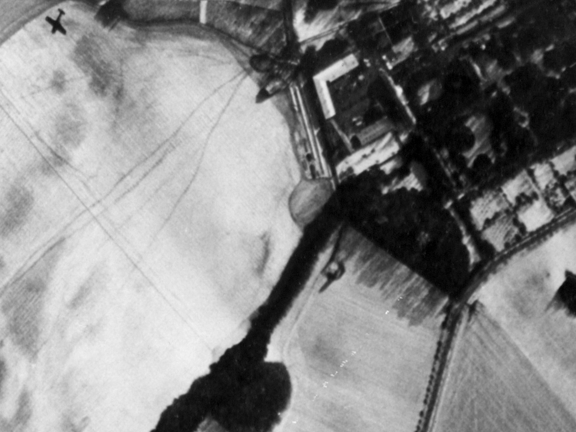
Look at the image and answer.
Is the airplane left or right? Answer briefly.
left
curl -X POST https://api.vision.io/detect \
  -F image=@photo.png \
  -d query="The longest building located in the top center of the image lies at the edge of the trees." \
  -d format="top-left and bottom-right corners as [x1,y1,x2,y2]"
[313,52,360,118]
